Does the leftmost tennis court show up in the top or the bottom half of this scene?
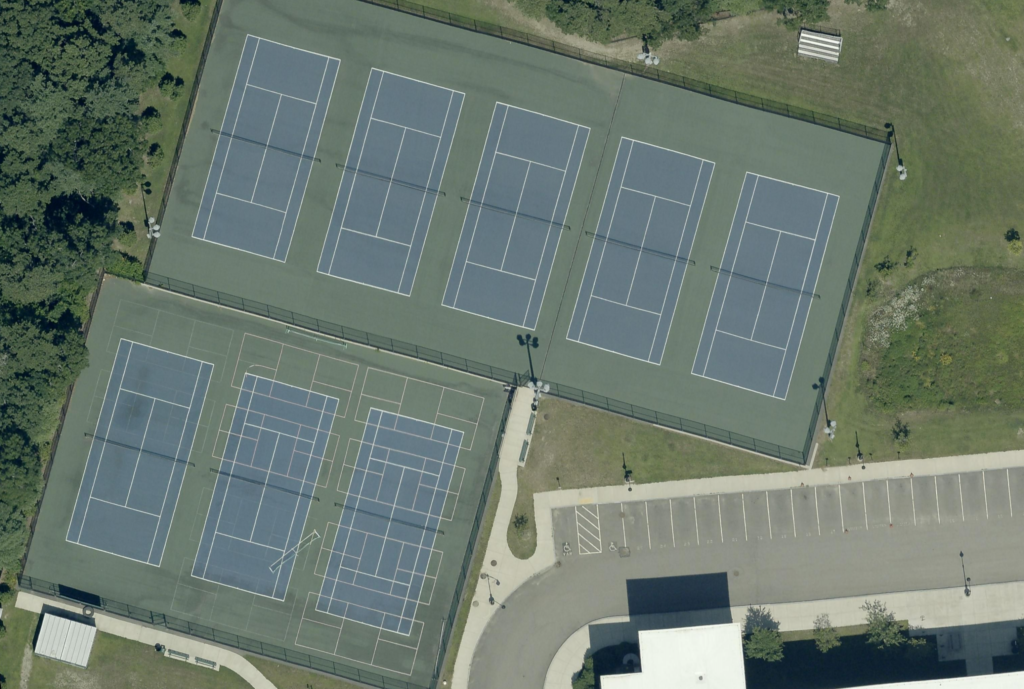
bottom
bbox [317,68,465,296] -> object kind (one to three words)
tennis court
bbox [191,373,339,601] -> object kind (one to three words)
tennis court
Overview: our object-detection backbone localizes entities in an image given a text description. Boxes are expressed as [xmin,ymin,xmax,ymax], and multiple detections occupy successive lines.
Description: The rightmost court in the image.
[691,171,840,400]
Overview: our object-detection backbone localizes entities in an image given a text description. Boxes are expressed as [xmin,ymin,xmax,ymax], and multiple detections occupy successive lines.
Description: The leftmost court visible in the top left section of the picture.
[192,34,341,262]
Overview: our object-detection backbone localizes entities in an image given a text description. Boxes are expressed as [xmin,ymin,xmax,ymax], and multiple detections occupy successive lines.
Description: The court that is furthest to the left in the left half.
[66,338,215,566]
